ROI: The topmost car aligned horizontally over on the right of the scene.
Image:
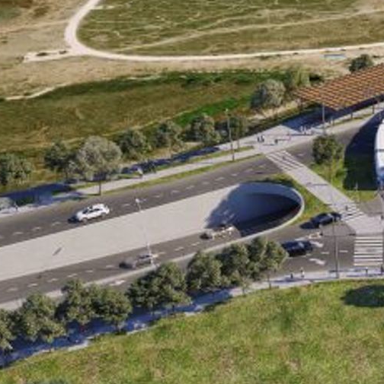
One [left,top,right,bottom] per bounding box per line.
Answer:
[307,209,342,227]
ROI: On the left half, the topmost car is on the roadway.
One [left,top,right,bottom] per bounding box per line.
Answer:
[74,201,110,223]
